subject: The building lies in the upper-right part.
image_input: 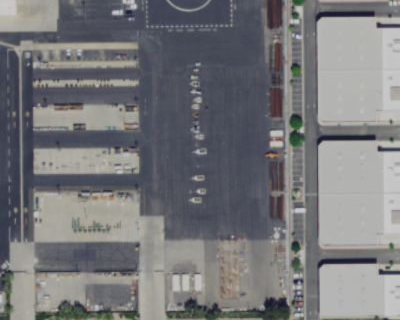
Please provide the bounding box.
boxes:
[316,17,400,121]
